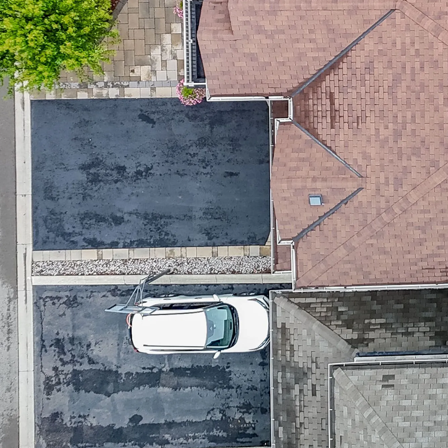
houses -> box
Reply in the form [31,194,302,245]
[252,290,448,448]
[181,0,448,289]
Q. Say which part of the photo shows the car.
bottom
